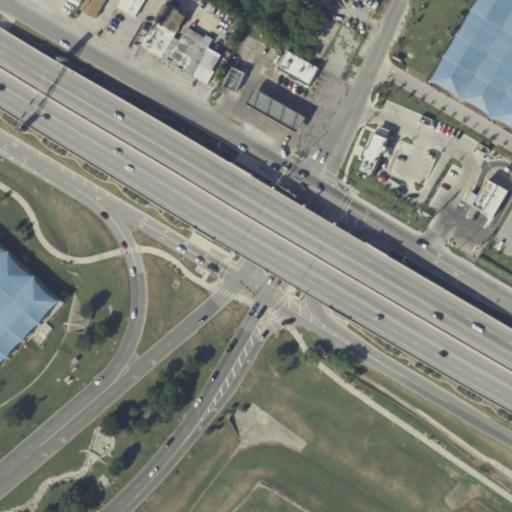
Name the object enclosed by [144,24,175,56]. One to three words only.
building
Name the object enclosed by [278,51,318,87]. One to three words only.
building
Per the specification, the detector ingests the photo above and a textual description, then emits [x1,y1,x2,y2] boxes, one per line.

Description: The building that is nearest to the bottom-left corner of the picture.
[0,244,59,363]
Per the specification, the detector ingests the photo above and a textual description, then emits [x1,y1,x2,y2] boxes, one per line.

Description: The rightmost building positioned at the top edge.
[428,0,512,130]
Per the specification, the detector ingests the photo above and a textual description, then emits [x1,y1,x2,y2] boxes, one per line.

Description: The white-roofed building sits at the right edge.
[474,180,508,217]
